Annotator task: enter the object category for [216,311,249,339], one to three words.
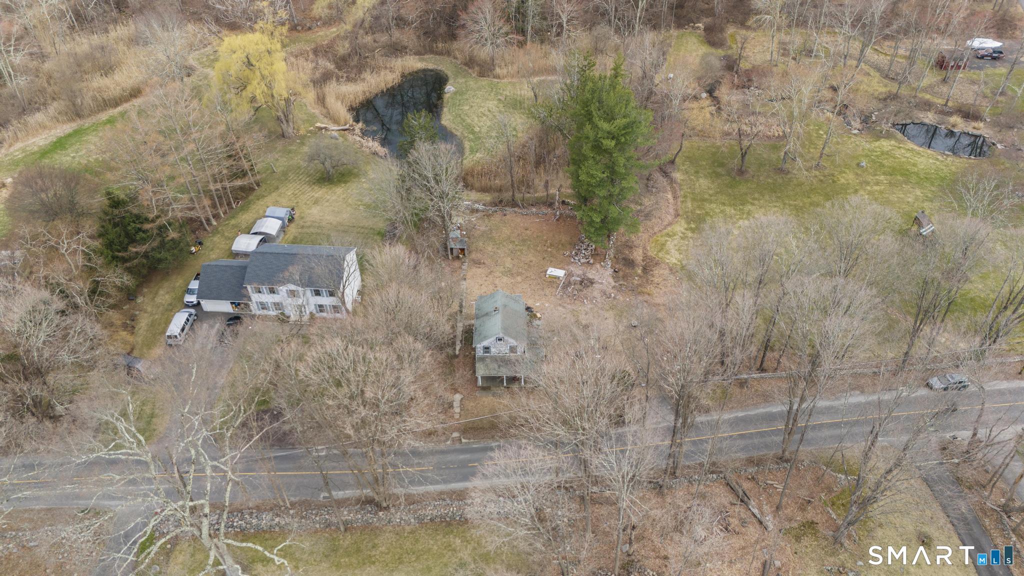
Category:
car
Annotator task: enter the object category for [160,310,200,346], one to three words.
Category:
van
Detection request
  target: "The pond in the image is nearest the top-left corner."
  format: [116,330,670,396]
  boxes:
[359,71,467,173]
